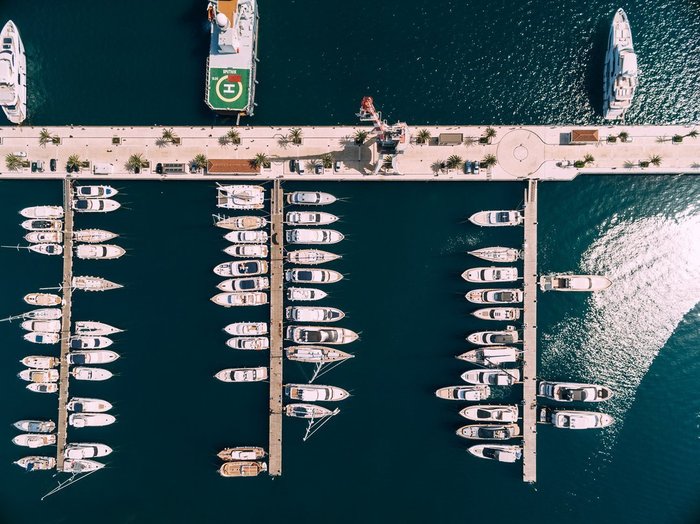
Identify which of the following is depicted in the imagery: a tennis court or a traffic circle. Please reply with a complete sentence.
Looking from above, you can make out a traffic circle.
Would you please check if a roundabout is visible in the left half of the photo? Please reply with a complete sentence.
No, I see no roundabout in the left half of the photo.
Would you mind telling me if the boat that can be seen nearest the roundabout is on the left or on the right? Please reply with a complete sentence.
The boat that can be seen nearest the roundabout is on the right side of the image.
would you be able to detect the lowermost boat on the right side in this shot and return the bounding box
[458,443,522,463]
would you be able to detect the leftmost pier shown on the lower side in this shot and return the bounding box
[56,182,75,471]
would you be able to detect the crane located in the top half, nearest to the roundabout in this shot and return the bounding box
[357,97,409,174]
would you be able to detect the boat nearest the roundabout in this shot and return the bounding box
[460,208,526,228]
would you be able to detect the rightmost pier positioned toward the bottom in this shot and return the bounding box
[522,203,537,482]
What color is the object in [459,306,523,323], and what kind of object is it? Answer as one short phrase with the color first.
white boat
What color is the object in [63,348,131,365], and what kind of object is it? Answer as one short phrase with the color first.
white boat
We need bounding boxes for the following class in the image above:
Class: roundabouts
[496,128,545,177]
